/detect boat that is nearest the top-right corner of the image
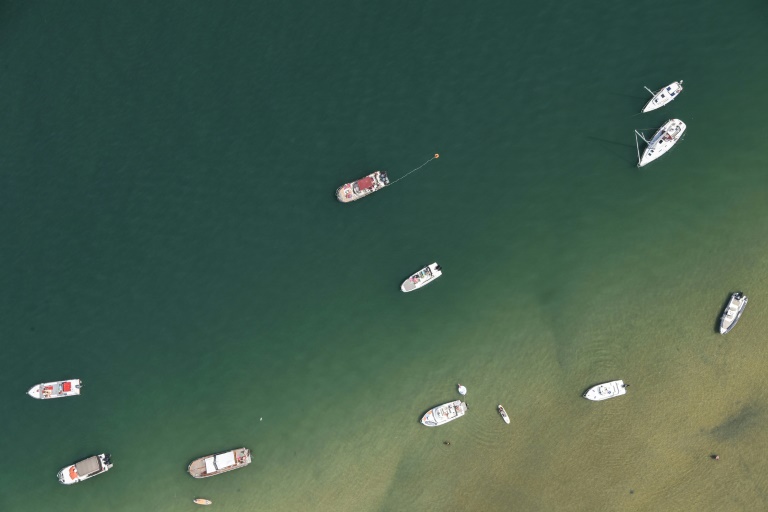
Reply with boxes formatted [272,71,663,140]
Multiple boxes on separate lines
[641,81,684,114]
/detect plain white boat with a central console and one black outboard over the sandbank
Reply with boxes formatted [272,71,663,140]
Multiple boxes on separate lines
[582,379,628,401]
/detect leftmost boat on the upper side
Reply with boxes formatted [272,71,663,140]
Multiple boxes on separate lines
[338,172,392,198]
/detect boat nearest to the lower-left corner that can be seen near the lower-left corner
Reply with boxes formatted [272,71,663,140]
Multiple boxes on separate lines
[58,454,113,483]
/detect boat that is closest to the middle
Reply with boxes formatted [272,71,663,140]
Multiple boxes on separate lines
[400,262,442,291]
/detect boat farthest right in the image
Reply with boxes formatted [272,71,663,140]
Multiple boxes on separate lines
[721,292,748,334]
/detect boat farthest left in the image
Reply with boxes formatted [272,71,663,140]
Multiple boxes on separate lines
[25,379,85,399]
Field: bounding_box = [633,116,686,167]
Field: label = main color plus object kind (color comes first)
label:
white boat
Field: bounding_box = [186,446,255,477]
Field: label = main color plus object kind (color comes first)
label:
white boat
